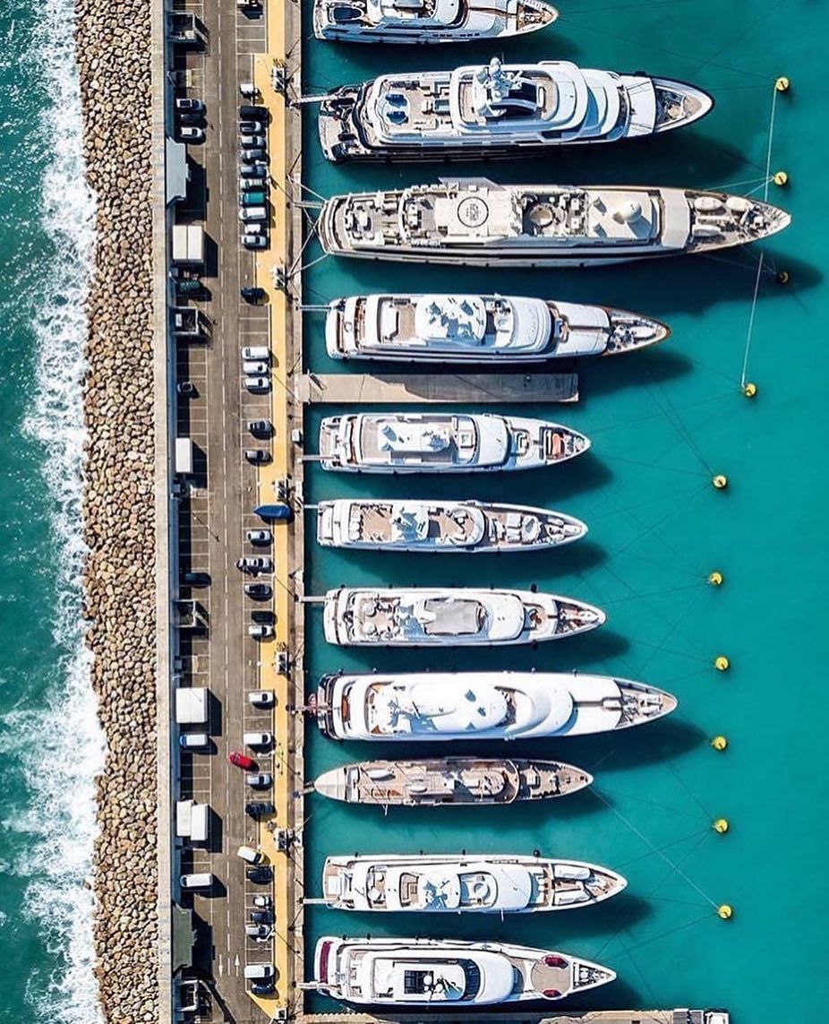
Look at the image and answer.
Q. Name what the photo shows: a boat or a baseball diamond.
boat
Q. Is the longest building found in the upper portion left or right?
left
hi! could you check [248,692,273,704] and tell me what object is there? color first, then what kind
white vehicle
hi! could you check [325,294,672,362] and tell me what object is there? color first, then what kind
white boat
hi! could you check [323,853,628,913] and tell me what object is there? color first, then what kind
white boat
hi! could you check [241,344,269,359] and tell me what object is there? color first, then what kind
white vehicle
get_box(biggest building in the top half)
[166,136,192,208]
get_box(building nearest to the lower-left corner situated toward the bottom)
[173,902,197,972]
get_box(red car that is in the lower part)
[228,752,254,771]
